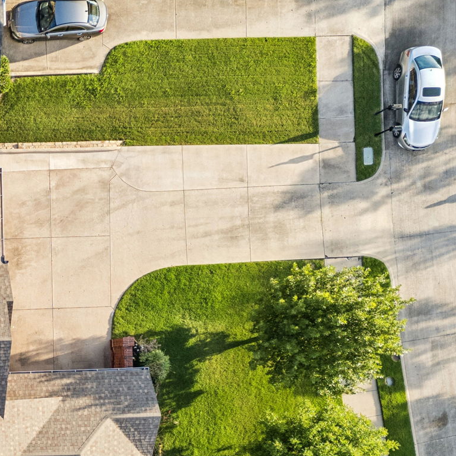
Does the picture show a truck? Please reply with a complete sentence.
No, no truck is visible in the scene.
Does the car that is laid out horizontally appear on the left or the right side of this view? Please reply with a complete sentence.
You can find the car that is laid out horizontally on the left side of the picture.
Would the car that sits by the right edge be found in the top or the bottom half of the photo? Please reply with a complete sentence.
The car that sits by the right edge is in the top half of the image.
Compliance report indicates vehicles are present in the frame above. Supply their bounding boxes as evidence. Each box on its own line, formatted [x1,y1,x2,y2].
[7,0,111,48]
[392,44,451,152]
